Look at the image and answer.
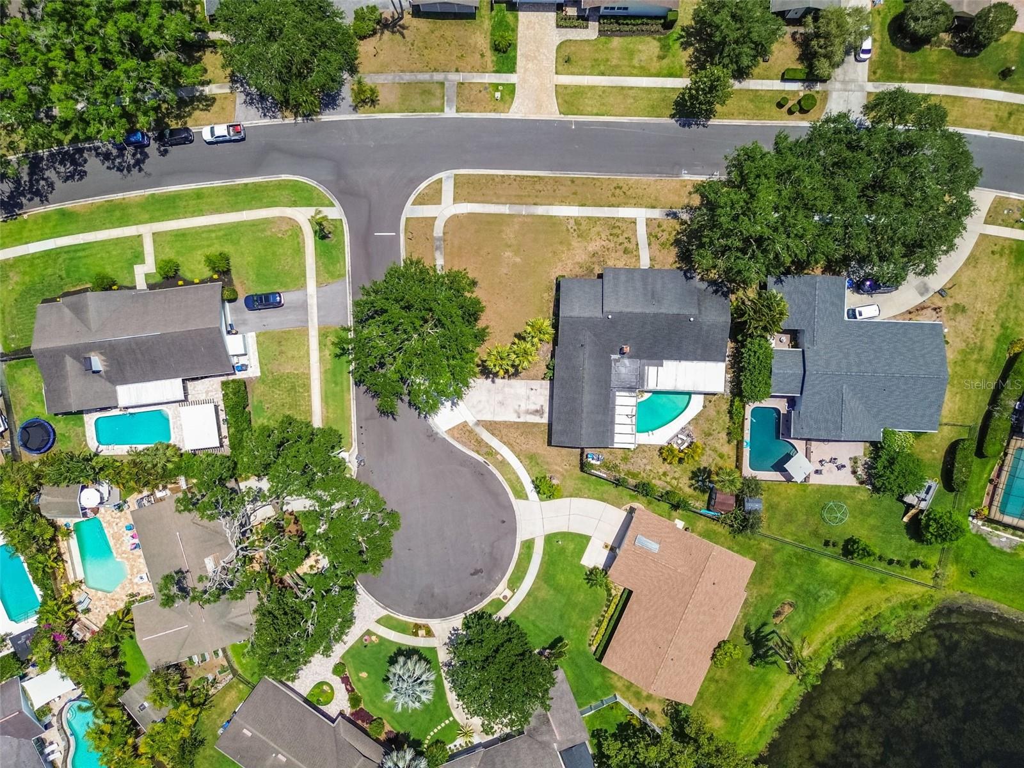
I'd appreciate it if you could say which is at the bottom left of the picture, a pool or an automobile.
pool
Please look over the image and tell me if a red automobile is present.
No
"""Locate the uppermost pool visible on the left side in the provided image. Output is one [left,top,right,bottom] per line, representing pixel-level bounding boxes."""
[91,406,175,451]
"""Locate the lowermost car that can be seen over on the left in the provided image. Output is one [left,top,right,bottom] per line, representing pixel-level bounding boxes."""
[243,292,280,310]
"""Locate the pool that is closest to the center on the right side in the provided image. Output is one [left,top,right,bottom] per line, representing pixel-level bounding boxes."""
[635,391,695,437]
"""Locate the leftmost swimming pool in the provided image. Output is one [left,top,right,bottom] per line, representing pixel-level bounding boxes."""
[0,541,40,627]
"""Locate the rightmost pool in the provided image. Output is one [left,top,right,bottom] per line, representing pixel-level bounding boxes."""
[996,438,1024,523]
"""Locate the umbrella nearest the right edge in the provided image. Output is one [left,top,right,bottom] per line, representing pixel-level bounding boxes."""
[783,452,814,482]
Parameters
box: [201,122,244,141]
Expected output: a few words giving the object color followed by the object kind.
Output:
white vehicle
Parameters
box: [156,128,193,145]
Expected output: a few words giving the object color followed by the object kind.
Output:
black car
